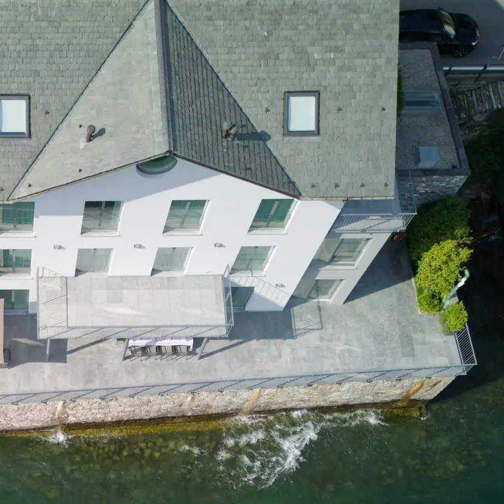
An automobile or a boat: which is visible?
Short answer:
automobile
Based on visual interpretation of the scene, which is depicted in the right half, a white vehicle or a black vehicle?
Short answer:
black vehicle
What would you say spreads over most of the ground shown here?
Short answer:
buildings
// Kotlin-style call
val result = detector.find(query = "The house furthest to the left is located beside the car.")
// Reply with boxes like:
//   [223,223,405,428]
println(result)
[0,0,415,363]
